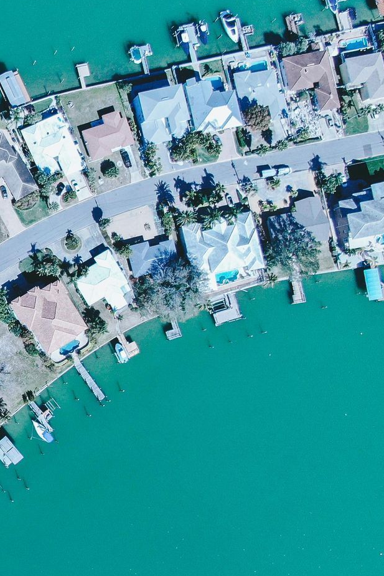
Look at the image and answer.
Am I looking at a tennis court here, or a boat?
boat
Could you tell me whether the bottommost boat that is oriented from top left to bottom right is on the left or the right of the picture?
left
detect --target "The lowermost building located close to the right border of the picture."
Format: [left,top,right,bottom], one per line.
[356,269,380,299]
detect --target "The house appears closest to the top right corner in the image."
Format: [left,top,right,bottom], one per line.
[336,51,384,102]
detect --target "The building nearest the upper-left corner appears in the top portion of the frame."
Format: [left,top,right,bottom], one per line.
[0,70,22,109]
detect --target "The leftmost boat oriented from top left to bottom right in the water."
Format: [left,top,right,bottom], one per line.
[34,418,55,444]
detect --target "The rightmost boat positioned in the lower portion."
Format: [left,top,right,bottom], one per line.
[116,343,130,366]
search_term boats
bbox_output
[131,42,142,63]
[116,343,130,366]
[34,418,55,444]
[177,26,191,54]
[216,8,239,42]
[349,5,357,20]
[198,19,210,44]
[328,0,338,12]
